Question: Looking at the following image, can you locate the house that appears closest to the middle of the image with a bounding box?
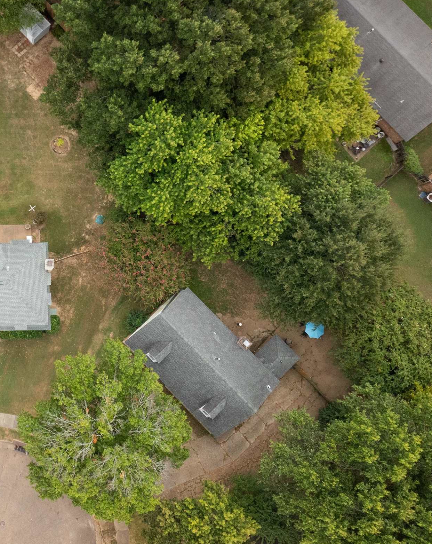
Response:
[122,287,301,437]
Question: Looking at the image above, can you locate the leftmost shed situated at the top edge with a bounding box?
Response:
[20,10,50,49]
